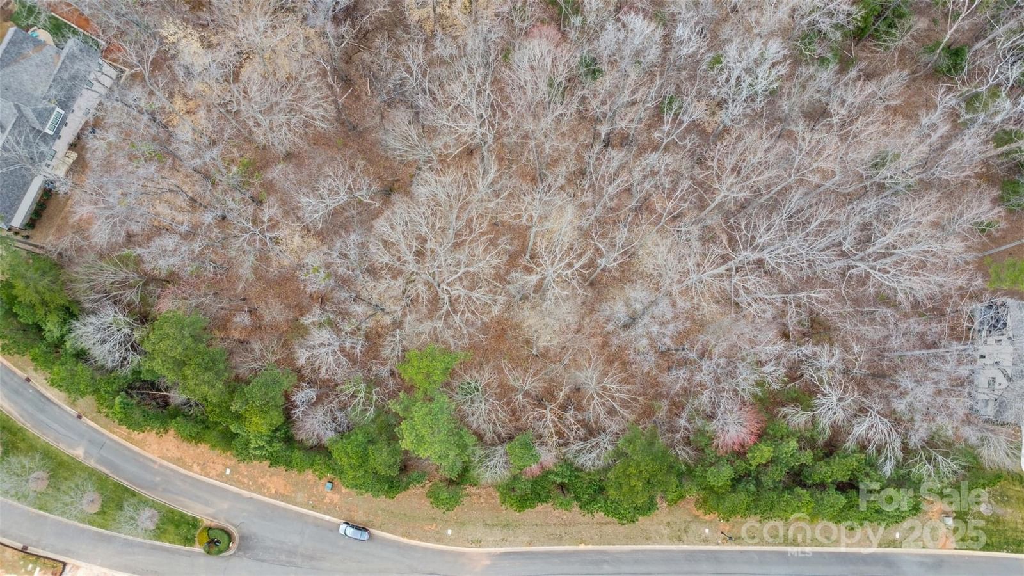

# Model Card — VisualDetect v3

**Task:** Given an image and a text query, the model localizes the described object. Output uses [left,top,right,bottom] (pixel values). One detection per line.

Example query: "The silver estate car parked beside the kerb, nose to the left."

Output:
[337,523,370,544]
